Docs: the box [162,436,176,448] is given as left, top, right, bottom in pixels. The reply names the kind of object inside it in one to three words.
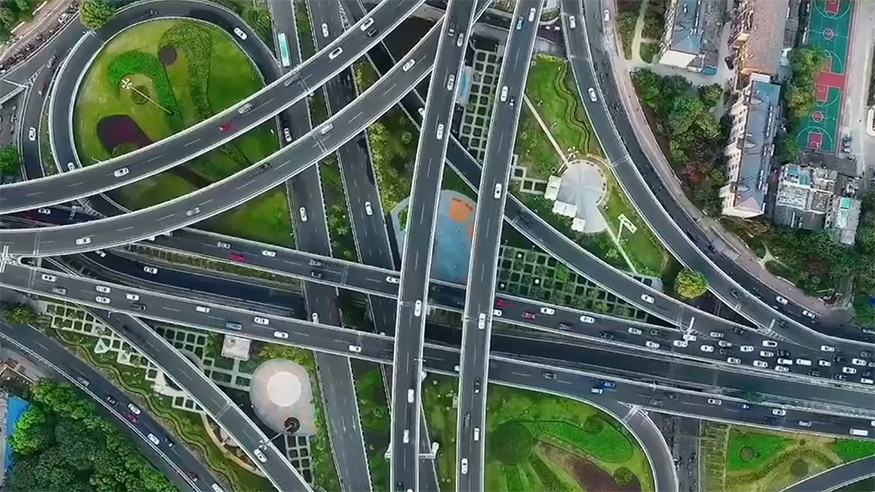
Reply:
vehicle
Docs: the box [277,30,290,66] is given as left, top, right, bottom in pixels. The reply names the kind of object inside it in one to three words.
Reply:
vehicle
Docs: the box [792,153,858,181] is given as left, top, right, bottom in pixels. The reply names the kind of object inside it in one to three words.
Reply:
building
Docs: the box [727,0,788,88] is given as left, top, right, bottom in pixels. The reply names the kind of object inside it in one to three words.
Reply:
building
